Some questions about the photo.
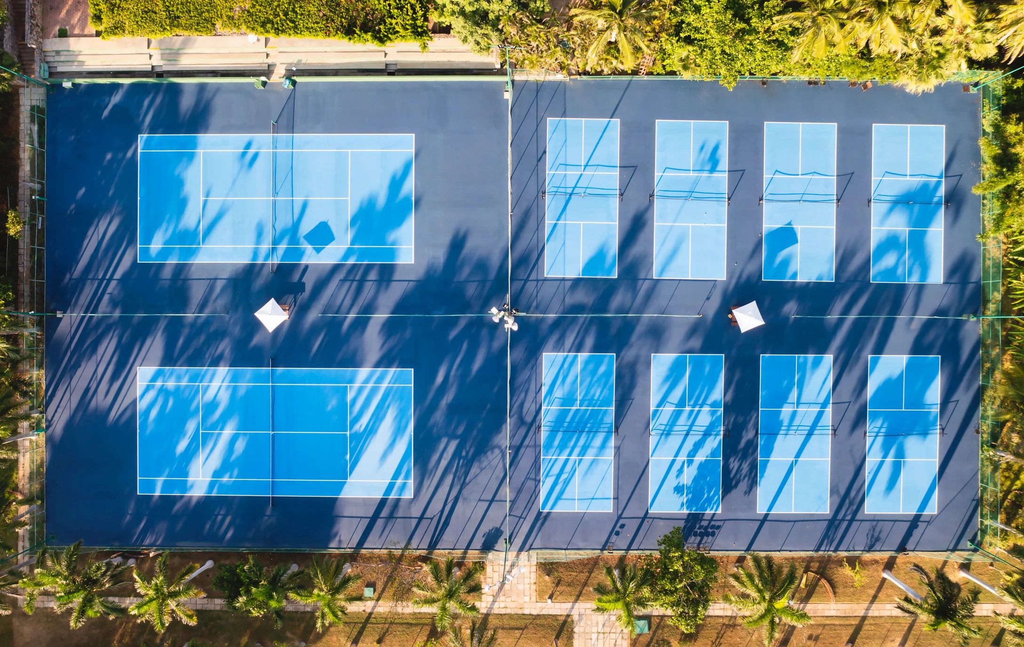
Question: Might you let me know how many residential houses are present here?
zero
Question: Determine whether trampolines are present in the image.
No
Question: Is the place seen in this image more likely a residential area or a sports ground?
sports ground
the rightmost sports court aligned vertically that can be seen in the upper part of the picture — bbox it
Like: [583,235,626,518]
[870,123,946,284]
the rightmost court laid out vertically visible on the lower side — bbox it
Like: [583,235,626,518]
[865,355,941,514]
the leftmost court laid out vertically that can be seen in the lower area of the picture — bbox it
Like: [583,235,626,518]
[540,353,616,513]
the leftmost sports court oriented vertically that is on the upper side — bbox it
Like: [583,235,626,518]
[544,117,620,278]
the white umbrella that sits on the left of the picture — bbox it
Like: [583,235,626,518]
[255,298,288,332]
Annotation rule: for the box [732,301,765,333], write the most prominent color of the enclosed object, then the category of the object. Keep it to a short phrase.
white umbrella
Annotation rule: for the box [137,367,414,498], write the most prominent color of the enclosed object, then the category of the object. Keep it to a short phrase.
blue tennis court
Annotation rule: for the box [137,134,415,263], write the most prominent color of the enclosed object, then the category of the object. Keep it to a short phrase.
blue tennis court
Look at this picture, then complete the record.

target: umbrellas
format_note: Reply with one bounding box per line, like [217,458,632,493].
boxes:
[732,301,765,333]
[255,298,288,332]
